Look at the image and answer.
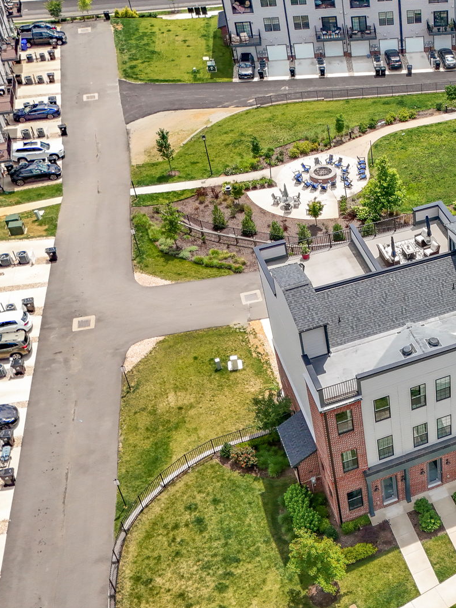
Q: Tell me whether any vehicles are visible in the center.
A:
No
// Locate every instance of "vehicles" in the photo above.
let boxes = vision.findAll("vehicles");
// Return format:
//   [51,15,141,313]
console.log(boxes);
[0,311,34,333]
[0,329,32,361]
[381,49,402,72]
[6,159,63,187]
[234,53,256,79]
[16,16,60,32]
[14,24,70,48]
[0,406,20,430]
[13,138,63,162]
[10,102,62,126]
